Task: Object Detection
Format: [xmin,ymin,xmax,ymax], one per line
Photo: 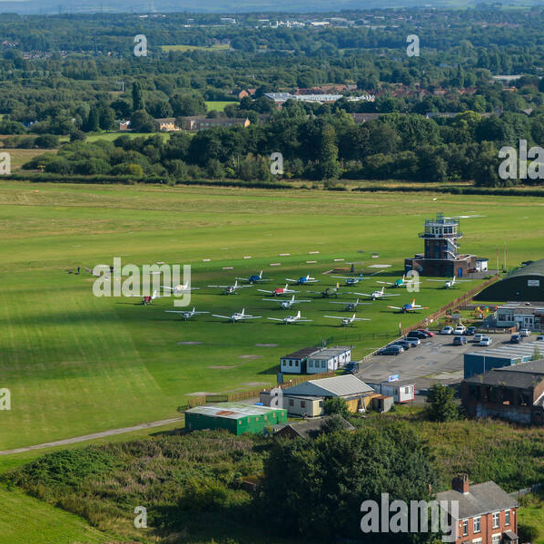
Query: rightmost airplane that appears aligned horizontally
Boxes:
[430,274,468,289]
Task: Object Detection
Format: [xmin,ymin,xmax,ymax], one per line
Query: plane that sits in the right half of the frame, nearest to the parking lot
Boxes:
[385,300,430,315]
